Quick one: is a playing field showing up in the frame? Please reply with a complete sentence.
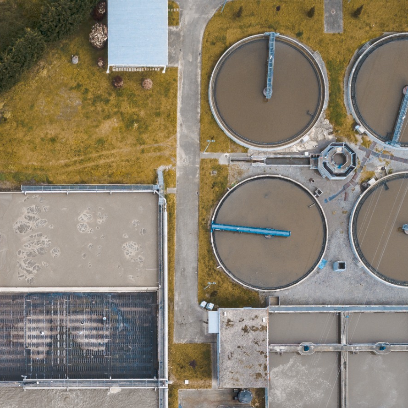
No, no playing field can be seen from above.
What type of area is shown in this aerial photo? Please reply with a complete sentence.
This image shows an industrial area.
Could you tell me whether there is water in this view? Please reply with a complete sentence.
Yes, the picture does contain water.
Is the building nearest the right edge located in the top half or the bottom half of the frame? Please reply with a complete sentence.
It is in the bottom half that the building nearest the right edge appears.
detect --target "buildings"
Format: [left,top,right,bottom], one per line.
[209,307,268,387]
[108,0,168,69]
